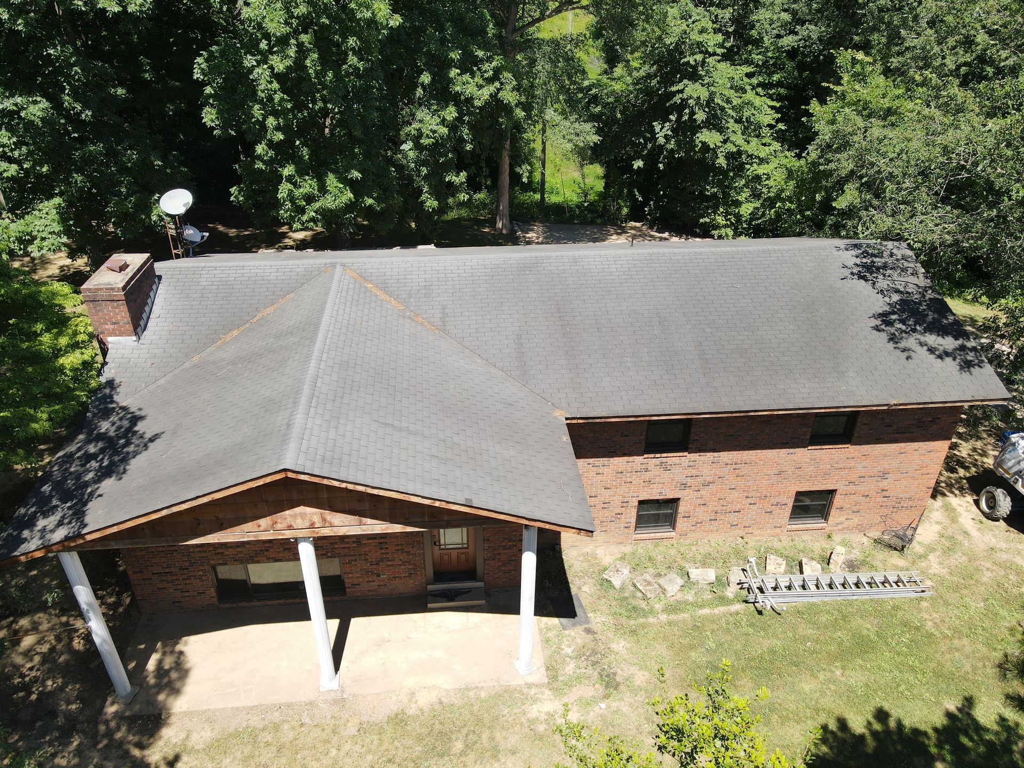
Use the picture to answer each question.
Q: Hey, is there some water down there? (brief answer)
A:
No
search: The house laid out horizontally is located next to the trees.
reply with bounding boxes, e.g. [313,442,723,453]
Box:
[0,232,1010,707]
